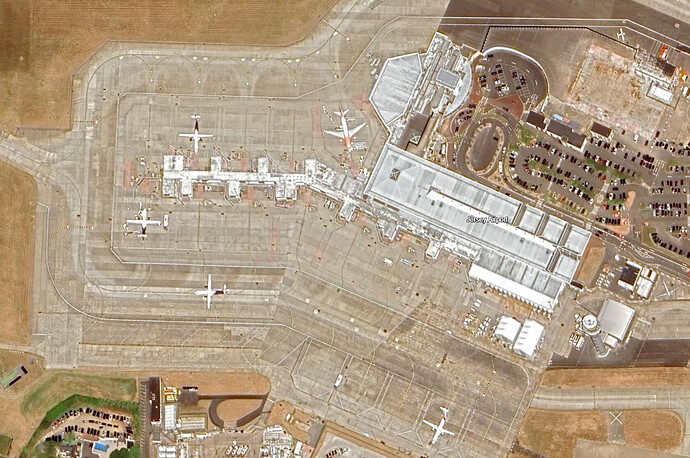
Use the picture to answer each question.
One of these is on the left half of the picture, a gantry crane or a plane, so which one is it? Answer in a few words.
plane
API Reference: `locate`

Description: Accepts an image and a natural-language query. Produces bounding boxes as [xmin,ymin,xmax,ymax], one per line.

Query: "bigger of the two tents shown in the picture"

[513,319,544,358]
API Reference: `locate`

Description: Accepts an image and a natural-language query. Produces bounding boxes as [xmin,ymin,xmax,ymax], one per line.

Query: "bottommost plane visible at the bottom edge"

[422,407,453,443]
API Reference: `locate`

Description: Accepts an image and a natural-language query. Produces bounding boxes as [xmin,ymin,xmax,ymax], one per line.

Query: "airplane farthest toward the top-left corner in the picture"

[179,114,214,153]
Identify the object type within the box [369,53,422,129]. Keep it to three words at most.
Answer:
building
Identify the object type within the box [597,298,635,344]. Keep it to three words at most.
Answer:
hangar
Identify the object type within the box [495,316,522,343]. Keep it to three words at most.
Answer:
tent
